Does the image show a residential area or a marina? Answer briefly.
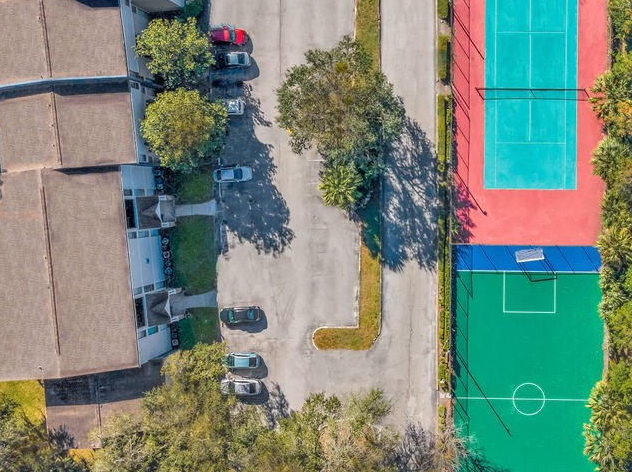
residential area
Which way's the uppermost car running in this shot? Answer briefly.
from left to right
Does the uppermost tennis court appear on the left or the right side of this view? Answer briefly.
right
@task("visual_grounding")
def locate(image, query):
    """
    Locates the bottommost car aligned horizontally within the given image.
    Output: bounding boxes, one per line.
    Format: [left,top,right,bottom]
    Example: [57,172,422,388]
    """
[221,377,264,397]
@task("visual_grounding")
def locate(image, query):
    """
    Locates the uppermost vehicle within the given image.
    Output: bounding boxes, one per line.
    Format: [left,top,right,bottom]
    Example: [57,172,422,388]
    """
[210,26,250,46]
